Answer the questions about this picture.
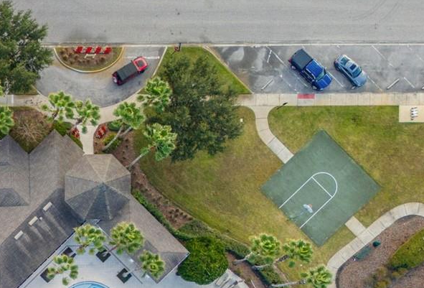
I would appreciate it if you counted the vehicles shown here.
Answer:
3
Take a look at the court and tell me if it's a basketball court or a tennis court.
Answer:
basketball court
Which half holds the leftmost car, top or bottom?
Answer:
top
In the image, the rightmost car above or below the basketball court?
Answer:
above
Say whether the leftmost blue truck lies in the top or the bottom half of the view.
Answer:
top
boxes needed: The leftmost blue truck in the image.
[287,47,333,93]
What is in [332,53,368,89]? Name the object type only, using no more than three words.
car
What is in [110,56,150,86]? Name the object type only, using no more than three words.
car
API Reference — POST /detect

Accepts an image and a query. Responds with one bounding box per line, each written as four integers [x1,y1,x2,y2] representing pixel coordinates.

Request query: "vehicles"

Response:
[110,56,150,86]
[287,47,333,93]
[332,53,368,89]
